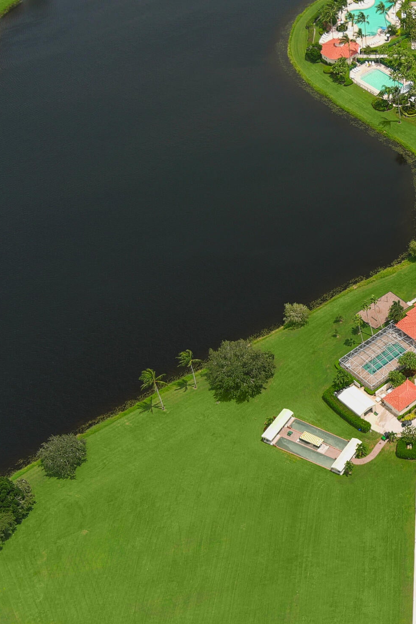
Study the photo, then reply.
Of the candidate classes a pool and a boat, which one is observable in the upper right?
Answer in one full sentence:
Visible in the upper right is a pool.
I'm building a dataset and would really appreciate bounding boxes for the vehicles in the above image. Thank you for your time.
[402,419,411,427]
[382,431,390,441]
